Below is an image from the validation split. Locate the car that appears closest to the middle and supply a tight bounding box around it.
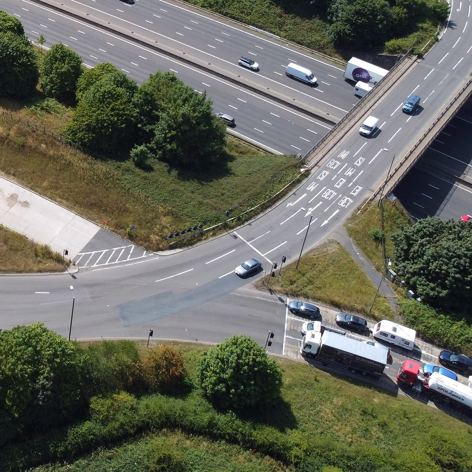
[235,258,262,275]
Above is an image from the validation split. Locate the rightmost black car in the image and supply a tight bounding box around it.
[441,352,472,372]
